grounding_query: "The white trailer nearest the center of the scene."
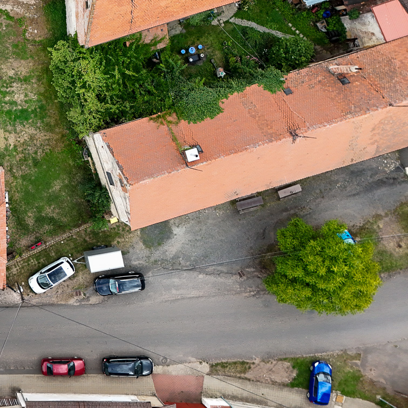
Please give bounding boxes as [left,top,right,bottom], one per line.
[76,249,130,276]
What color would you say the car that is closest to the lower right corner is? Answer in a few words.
blue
